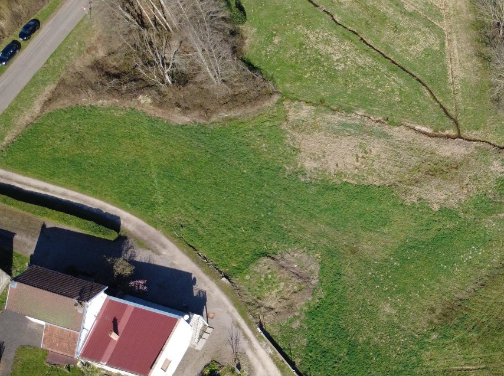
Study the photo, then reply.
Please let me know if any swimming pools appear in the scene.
No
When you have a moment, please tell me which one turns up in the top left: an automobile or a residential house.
automobile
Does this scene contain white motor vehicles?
No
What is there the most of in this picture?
grass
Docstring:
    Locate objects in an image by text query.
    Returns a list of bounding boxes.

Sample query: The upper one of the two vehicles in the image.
[13,17,41,39]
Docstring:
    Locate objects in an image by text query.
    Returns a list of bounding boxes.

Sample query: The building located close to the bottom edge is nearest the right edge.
[77,294,192,376]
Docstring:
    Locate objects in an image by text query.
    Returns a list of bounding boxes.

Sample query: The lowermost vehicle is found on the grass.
[0,39,21,63]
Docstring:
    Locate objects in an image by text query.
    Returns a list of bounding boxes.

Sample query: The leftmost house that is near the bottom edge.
[3,265,111,367]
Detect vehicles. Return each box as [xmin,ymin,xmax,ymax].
[0,39,21,63]
[13,17,41,39]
